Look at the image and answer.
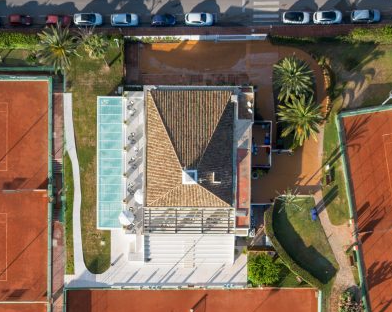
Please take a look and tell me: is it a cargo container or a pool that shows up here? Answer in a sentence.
There is a pool in the scene.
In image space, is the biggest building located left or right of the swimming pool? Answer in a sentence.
Relative to the swimming pool, the biggest building is on the right.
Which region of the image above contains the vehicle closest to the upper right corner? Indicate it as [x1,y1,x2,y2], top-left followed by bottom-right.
[352,7,381,22]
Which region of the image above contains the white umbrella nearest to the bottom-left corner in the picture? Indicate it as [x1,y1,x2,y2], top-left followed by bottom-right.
[119,211,136,228]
